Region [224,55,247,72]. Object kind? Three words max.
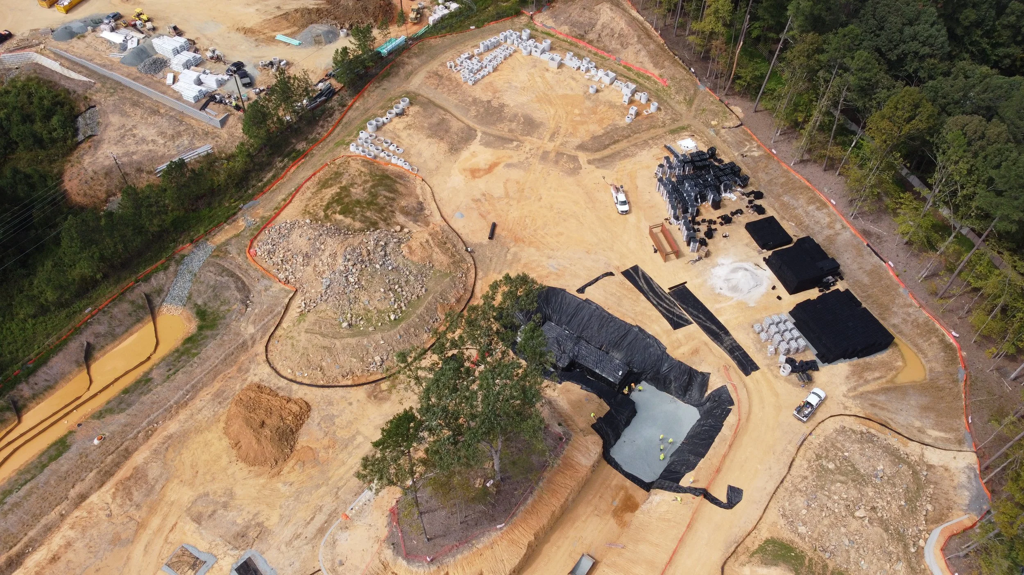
vehicle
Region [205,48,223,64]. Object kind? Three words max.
work vehicle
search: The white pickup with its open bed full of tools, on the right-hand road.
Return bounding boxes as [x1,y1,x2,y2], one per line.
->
[797,386,825,421]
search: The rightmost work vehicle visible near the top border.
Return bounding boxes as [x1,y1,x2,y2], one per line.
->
[407,3,424,20]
